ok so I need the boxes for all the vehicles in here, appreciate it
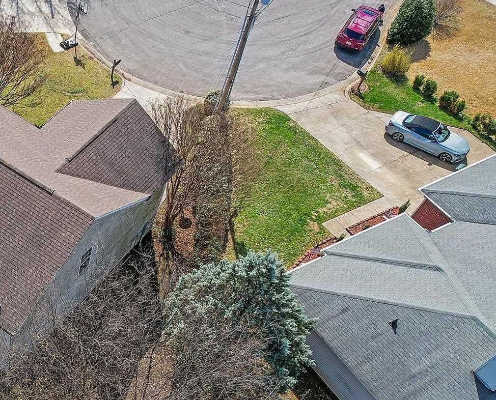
[338,6,387,53]
[388,107,473,160]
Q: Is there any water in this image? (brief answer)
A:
No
